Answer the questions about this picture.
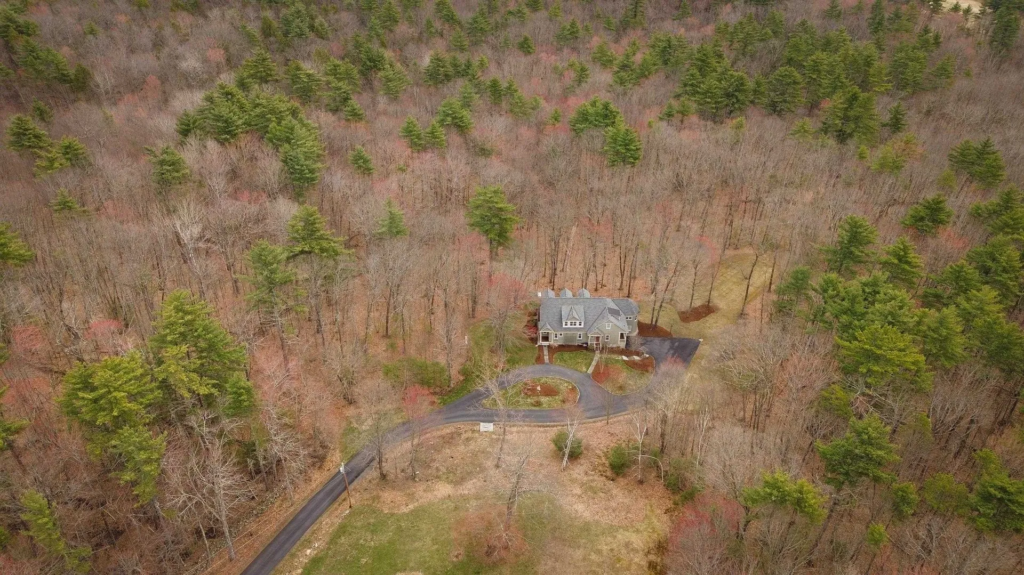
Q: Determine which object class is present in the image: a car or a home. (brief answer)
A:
home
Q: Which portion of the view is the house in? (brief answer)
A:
center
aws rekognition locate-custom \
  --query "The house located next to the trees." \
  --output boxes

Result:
[536,287,642,354]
